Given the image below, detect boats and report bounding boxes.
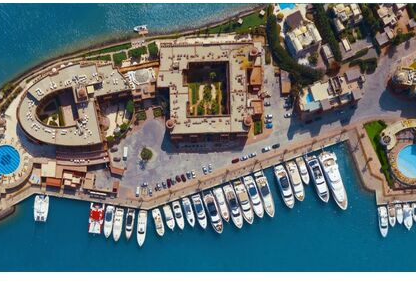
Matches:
[153,204,164,236]
[321,146,349,209]
[137,206,149,246]
[387,201,396,226]
[89,202,104,233]
[286,156,304,201]
[275,161,294,208]
[35,196,50,222]
[245,171,263,217]
[192,189,207,228]
[114,204,125,241]
[234,176,253,224]
[164,201,175,230]
[135,26,148,32]
[223,179,242,228]
[255,166,274,217]
[377,201,389,237]
[104,202,116,238]
[214,182,229,221]
[305,151,329,202]
[183,193,195,226]
[126,204,136,239]
[202,186,222,233]
[297,153,309,184]
[395,199,403,224]
[402,200,413,229]
[174,197,184,229]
